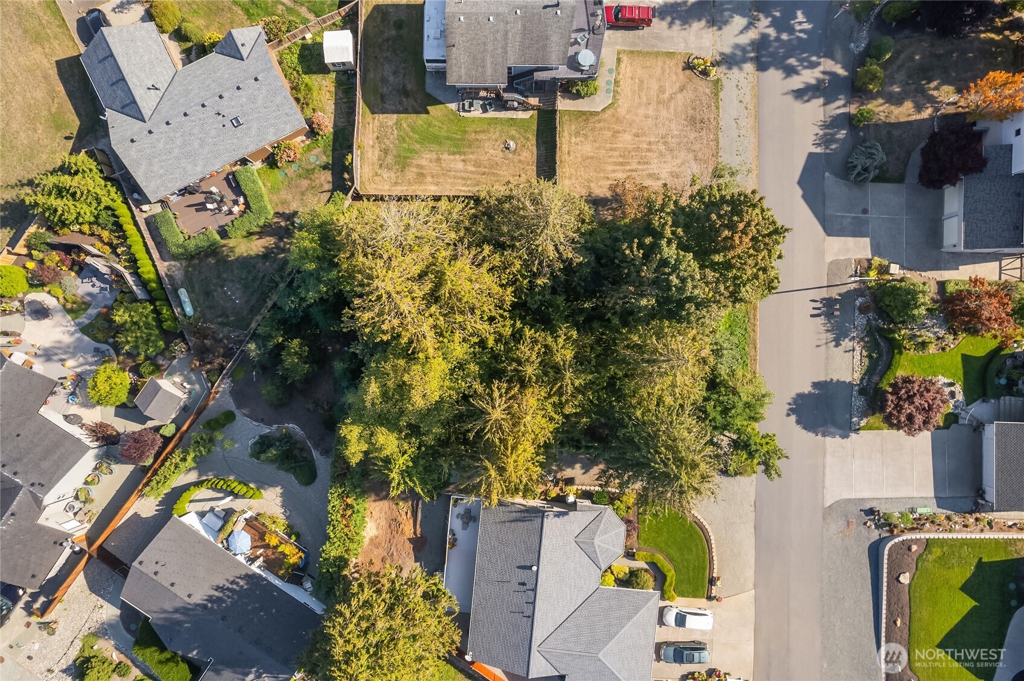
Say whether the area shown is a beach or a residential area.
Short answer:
residential area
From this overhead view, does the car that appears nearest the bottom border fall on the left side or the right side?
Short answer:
right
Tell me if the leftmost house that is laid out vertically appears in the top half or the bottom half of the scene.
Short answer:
bottom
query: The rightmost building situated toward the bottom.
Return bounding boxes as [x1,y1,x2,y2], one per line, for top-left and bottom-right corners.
[981,421,1024,511]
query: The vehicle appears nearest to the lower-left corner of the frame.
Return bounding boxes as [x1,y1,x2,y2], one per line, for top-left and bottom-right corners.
[0,586,33,629]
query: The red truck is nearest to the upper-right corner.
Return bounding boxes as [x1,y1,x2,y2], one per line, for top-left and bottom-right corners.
[595,5,660,34]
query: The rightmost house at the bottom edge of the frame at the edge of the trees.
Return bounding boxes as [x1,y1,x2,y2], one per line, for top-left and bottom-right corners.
[465,498,660,681]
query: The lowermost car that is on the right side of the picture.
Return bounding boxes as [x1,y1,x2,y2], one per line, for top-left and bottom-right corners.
[659,638,709,665]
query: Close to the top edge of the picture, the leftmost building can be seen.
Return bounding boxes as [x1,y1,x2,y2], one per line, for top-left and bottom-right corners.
[79,21,310,204]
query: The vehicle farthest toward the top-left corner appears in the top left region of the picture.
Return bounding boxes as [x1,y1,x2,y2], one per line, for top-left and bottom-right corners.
[79,4,109,39]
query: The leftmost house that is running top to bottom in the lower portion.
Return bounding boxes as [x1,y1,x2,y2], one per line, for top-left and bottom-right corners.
[0,350,105,590]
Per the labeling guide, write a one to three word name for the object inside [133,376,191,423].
shed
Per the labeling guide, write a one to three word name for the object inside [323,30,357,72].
shed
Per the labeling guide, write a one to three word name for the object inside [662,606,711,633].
car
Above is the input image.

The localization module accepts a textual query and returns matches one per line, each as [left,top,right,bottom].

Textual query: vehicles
[0,586,33,629]
[425,0,444,72]
[662,606,711,633]
[595,5,660,34]
[659,638,709,665]
[79,4,109,39]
